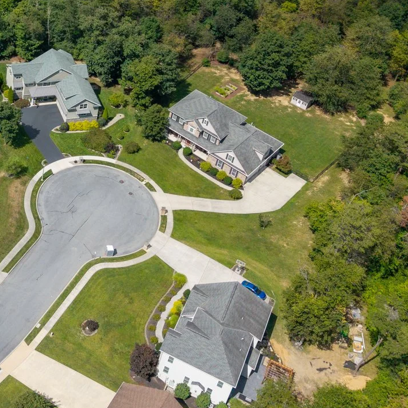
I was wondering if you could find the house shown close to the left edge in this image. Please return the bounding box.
[8,46,101,122]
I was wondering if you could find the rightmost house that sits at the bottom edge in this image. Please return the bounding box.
[159,283,270,403]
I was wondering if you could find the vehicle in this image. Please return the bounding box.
[241,280,268,301]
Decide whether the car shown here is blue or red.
blue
